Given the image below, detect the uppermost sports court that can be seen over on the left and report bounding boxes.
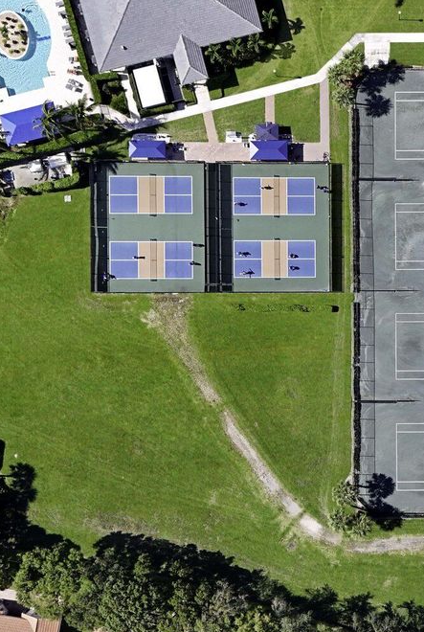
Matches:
[95,163,204,227]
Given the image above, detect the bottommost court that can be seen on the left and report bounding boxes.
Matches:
[95,227,204,292]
